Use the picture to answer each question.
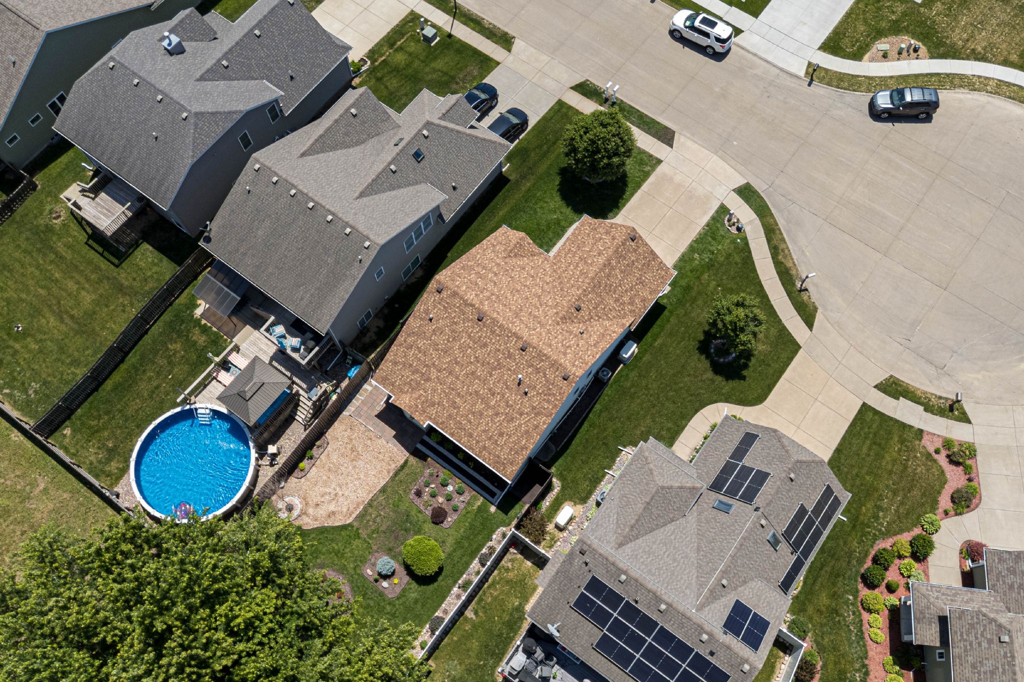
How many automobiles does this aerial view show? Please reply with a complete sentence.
The photo contains 4 automobiles.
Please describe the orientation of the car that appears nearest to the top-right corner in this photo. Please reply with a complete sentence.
The car that appears nearest to the top-right corner is laid out horizontally.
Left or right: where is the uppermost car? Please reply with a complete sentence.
The uppermost car appears in the right half of the scene.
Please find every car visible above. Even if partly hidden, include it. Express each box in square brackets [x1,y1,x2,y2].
[485,103,530,145]
[465,81,499,125]
[868,84,943,119]
[667,8,738,55]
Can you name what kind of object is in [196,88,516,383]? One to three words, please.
house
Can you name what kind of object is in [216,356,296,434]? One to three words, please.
gazebo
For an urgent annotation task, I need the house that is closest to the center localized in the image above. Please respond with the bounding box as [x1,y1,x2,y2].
[371,216,678,494]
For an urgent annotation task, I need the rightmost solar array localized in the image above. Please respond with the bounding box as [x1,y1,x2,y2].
[782,484,843,594]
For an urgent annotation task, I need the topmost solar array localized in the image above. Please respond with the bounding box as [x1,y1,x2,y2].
[707,431,770,503]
